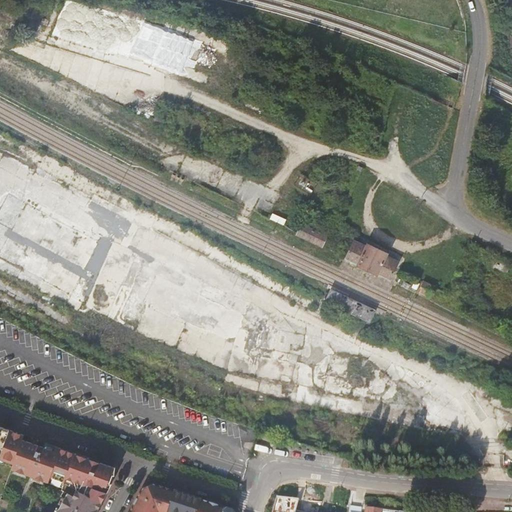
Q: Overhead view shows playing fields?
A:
No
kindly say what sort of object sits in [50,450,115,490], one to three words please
building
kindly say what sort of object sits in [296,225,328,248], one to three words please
shed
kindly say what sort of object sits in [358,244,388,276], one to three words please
building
